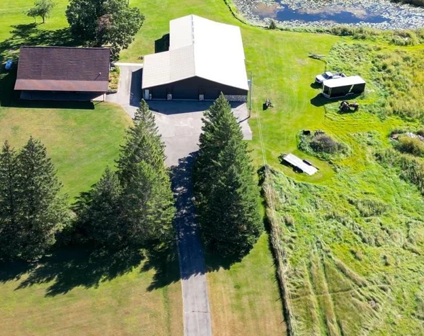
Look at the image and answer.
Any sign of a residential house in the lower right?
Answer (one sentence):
No, I can find no residential house in the lower right.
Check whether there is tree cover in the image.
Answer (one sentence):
Yes, tree cover can be seen from above here.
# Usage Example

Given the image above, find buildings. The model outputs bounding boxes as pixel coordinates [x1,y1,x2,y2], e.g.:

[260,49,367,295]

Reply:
[13,45,113,101]
[142,14,250,102]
